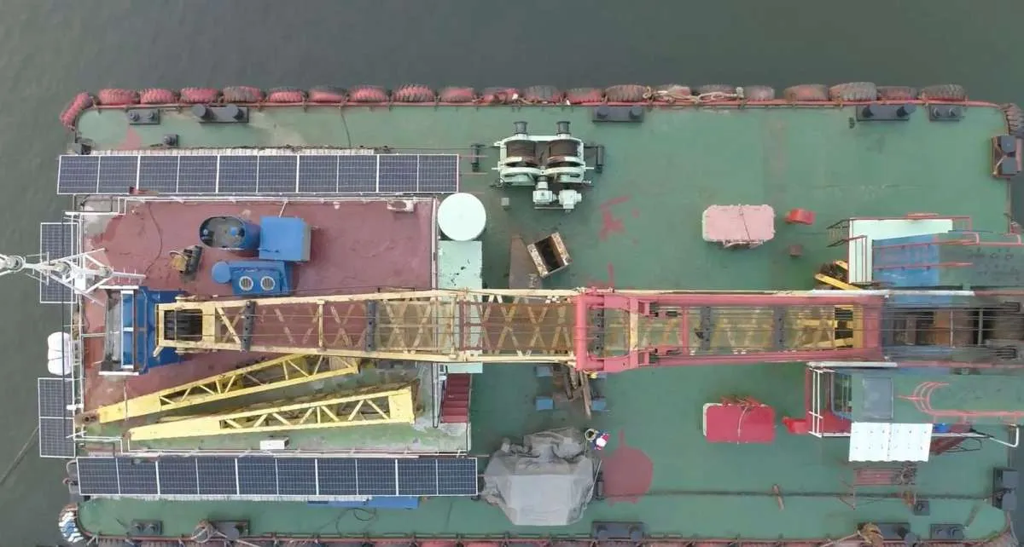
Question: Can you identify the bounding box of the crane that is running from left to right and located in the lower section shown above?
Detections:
[151,213,1024,463]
